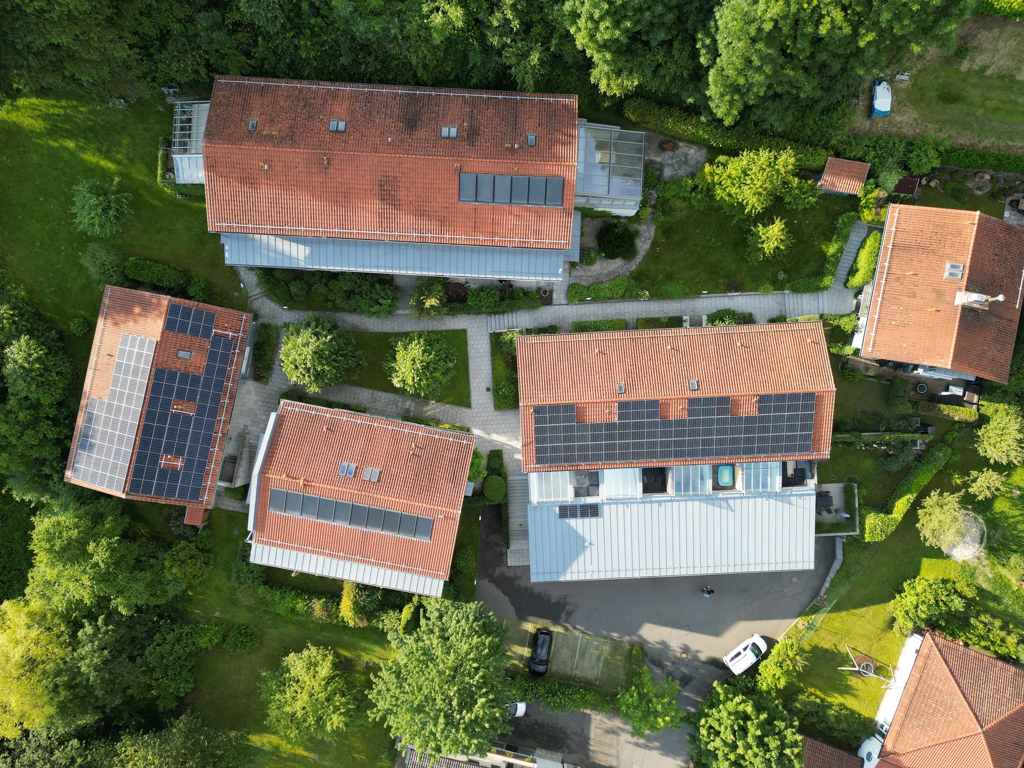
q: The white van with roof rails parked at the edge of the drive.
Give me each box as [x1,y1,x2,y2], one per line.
[721,633,766,677]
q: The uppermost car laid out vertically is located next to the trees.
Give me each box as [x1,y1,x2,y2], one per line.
[528,626,553,676]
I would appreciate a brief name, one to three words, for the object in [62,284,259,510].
house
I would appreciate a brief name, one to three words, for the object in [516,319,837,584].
house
